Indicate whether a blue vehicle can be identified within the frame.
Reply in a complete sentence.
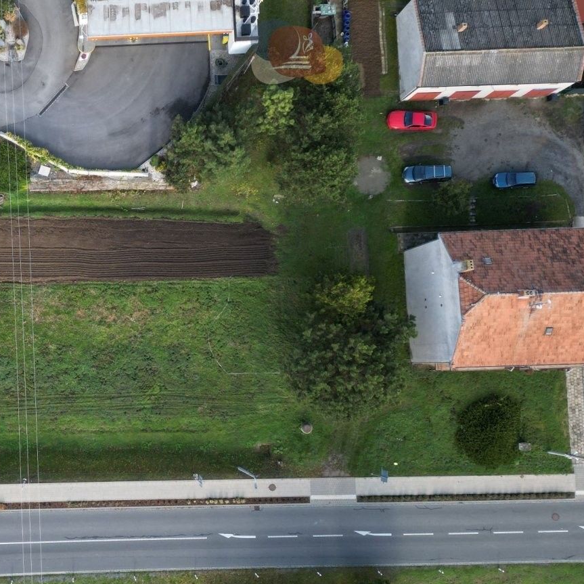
Yes, there's a blue vehicle here.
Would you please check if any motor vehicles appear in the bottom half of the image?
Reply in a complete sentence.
No, no motor vehicle appears in the bottom half of the image.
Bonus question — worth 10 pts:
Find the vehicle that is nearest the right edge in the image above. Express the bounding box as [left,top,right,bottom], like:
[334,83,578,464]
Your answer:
[493,167,542,190]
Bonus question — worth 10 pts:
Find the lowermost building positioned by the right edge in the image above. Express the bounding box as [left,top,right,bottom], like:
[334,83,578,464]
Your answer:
[403,230,584,368]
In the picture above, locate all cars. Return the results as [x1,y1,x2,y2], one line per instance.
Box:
[493,167,542,190]
[402,162,456,185]
[386,106,439,131]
